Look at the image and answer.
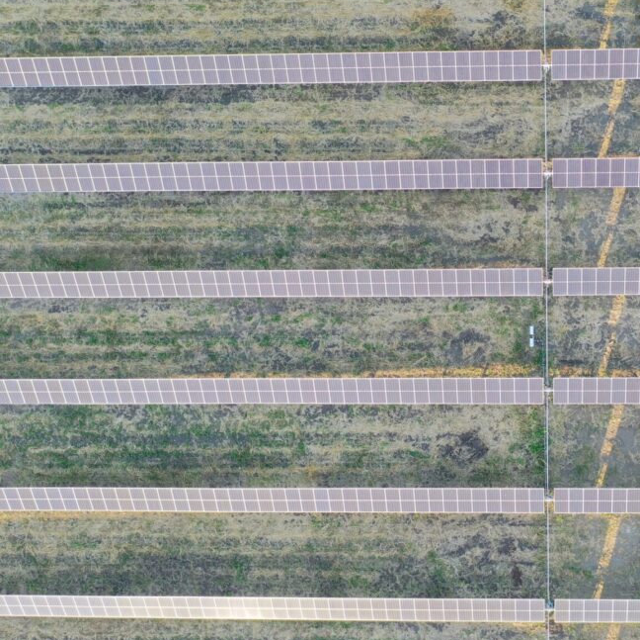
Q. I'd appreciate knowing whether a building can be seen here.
No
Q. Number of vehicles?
0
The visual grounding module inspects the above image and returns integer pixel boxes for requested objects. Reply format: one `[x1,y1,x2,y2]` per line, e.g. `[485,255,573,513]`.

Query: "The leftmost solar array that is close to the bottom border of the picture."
[0,596,548,620]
